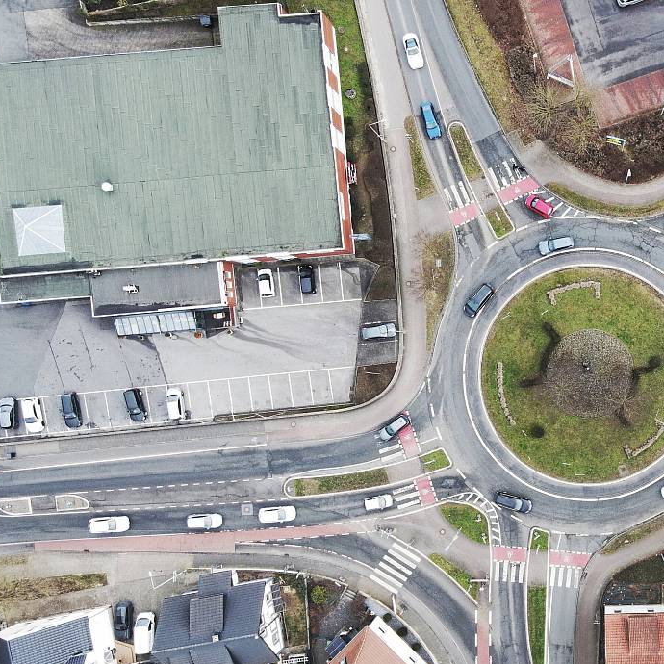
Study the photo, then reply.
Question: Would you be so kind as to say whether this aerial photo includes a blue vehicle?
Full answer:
Yes, I can see a blue vehicle in this picture.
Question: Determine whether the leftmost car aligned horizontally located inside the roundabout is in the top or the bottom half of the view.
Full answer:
Seen from above, the leftmost car aligned horizontally located inside the roundabout lies in the bottom half of the view.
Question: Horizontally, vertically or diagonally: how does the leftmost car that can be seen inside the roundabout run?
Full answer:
The leftmost car that can be seen inside the roundabout is oriented diagonally.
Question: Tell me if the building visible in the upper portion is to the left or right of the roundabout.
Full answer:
The building visible in the upper portion appears to the left of the roundabout in this view.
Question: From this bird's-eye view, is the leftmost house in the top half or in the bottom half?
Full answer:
Seen from above, the leftmost house lies in the bottom half of the view.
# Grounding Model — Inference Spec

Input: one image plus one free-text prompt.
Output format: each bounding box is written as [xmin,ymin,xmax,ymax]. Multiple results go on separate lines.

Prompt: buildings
[0,603,122,664]
[0,1,370,336]
[149,553,318,664]
[330,617,424,664]
[606,585,664,664]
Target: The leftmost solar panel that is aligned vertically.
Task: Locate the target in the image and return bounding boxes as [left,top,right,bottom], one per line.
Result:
[274,577,290,612]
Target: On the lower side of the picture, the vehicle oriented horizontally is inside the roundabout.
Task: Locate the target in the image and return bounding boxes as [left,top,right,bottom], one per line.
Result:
[495,491,531,512]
